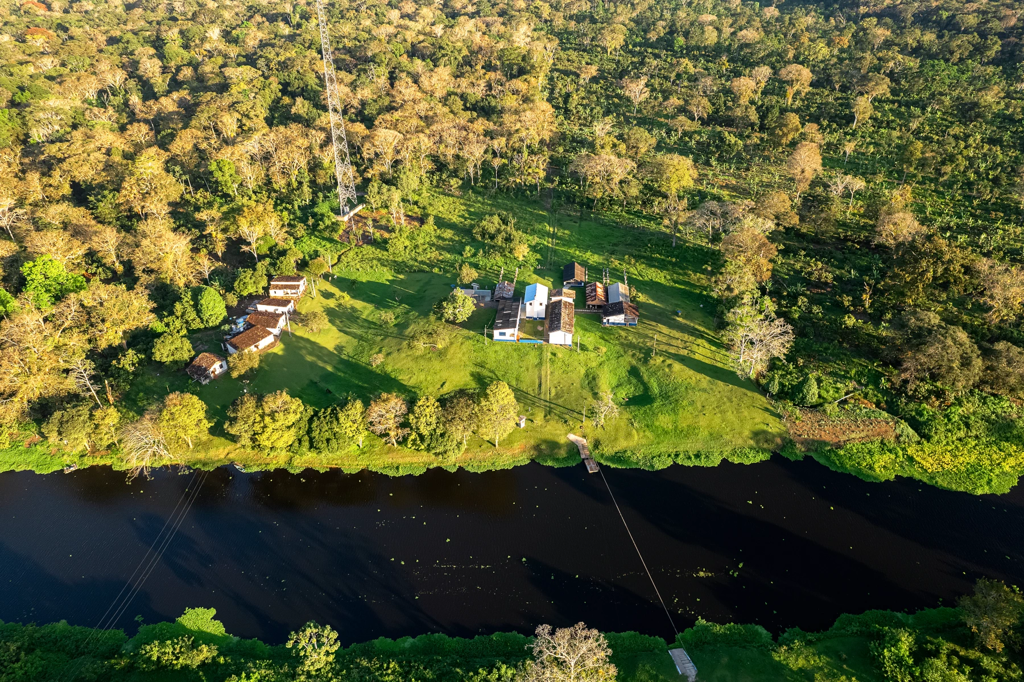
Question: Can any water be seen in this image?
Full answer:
Yes, some water is visible.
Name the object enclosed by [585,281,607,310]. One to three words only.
shed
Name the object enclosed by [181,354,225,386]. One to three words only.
house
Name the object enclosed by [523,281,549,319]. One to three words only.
house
